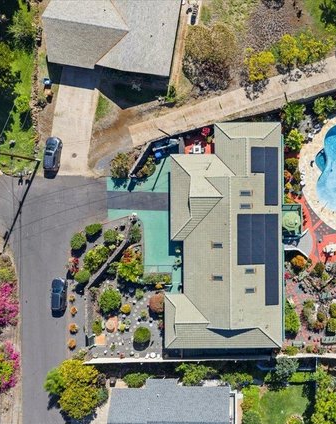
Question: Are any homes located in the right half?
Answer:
Yes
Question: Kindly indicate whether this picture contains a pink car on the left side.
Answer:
No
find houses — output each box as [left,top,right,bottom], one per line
[108,378,245,424]
[164,122,283,358]
[42,0,183,74]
